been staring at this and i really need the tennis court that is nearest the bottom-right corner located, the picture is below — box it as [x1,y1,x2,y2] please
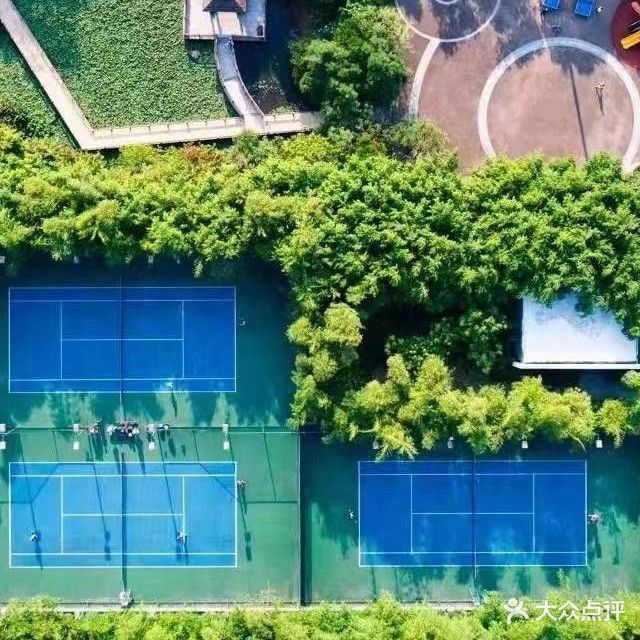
[300,431,640,603]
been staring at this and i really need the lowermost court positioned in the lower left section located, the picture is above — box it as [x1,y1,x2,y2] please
[0,429,299,603]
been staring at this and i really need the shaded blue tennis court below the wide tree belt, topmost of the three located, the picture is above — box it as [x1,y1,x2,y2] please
[0,254,299,429]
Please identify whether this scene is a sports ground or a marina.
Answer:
sports ground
